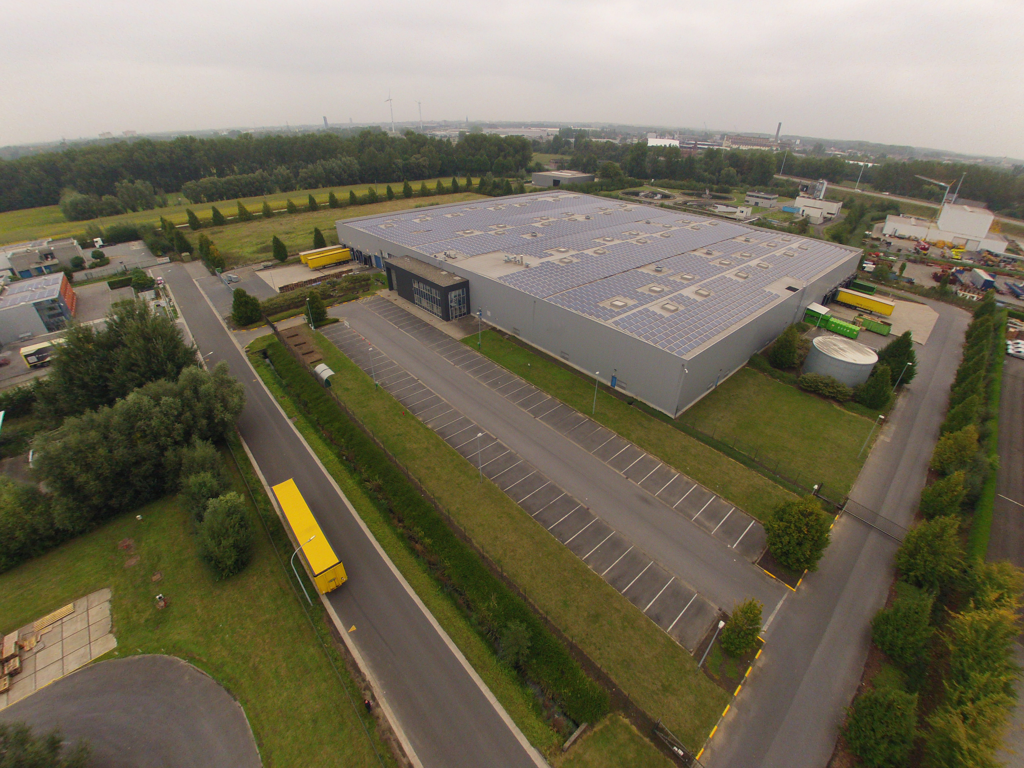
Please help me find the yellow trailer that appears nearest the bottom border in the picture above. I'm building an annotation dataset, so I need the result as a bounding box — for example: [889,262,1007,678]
[264,476,349,597]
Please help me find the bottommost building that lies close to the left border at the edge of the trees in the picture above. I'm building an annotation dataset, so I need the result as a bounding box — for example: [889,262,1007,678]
[0,271,75,346]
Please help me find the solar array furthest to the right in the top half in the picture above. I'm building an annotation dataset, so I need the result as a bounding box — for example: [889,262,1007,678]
[348,193,852,358]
